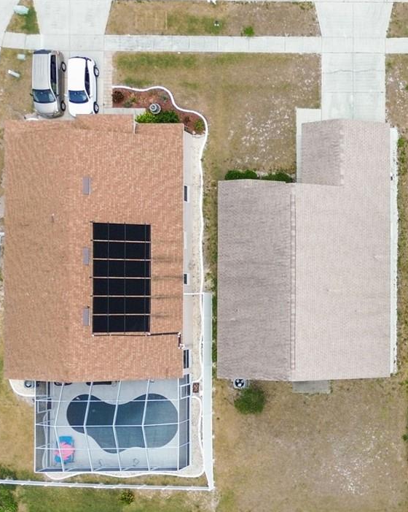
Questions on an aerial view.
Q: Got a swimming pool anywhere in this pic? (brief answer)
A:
Yes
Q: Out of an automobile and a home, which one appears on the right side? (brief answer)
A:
home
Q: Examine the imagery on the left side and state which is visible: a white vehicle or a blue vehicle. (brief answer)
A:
white vehicle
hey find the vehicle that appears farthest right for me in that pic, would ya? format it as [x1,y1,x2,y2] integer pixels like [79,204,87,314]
[65,56,100,119]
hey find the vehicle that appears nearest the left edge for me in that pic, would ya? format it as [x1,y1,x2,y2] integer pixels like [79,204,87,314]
[30,49,68,120]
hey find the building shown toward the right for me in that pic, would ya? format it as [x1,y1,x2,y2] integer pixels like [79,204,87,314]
[218,120,393,383]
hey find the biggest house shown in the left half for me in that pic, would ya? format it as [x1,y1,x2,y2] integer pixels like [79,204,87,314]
[1,113,198,382]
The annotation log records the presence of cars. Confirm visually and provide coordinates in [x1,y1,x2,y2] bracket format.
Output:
[65,56,100,119]
[30,49,68,120]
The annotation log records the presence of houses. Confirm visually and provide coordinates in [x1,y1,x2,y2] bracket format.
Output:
[218,120,393,383]
[1,113,198,382]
